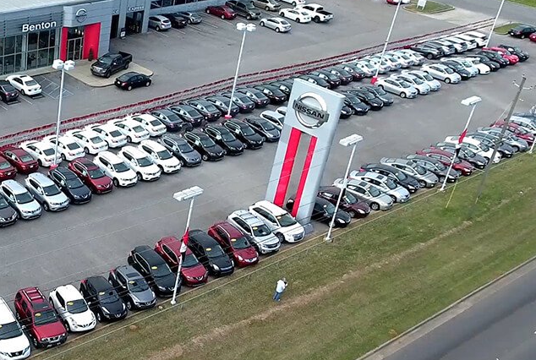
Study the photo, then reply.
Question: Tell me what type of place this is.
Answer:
parking lot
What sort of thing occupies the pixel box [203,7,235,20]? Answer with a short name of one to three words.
vehicle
